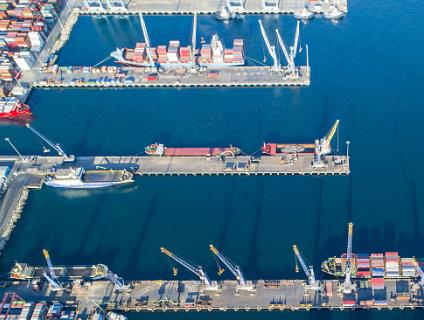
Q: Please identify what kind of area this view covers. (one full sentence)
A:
This looks like a port.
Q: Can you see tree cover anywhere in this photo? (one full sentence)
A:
No, the picture contains no tree cover.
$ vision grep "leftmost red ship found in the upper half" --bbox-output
[0,92,33,118]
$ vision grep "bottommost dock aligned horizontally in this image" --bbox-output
[108,280,424,312]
